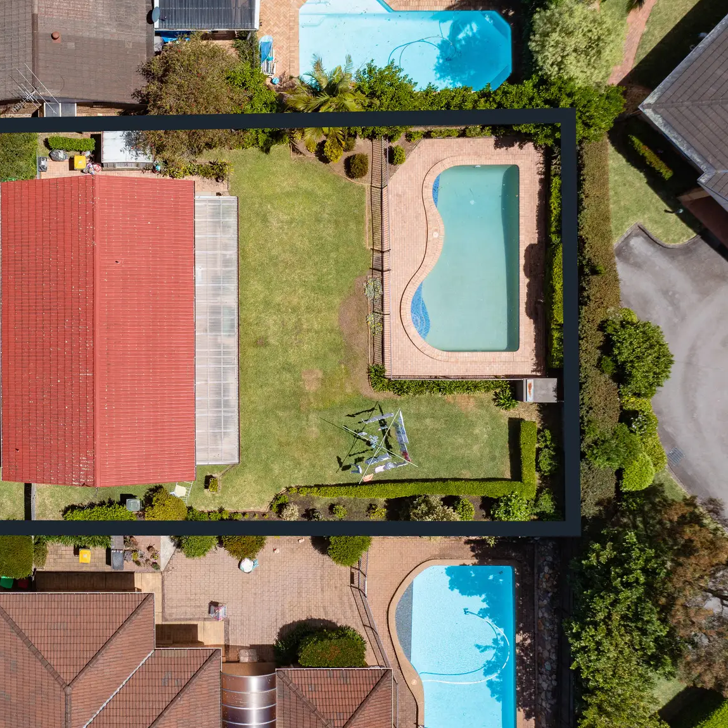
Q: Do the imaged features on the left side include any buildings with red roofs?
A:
Yes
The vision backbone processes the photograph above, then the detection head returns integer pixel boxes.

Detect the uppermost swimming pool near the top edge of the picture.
[289,0,521,100]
